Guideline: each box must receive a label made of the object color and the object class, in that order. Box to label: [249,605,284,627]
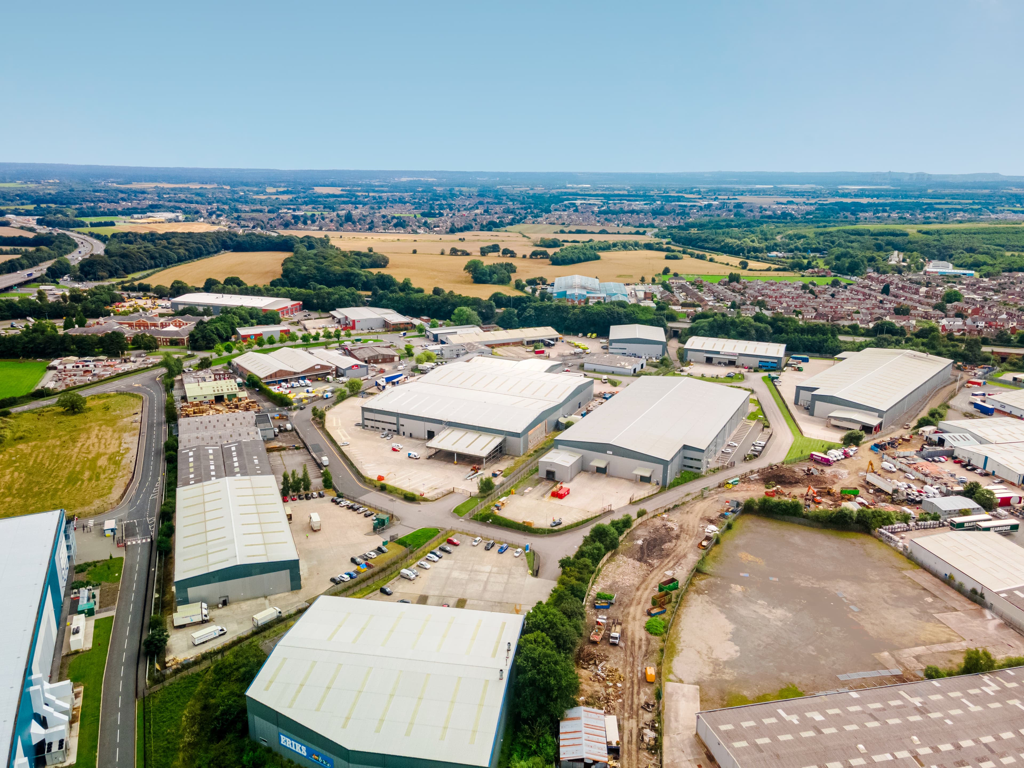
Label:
white truck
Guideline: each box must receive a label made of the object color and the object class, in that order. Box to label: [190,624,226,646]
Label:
white vehicle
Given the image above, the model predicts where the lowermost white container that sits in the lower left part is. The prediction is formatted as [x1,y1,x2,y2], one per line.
[64,610,89,650]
